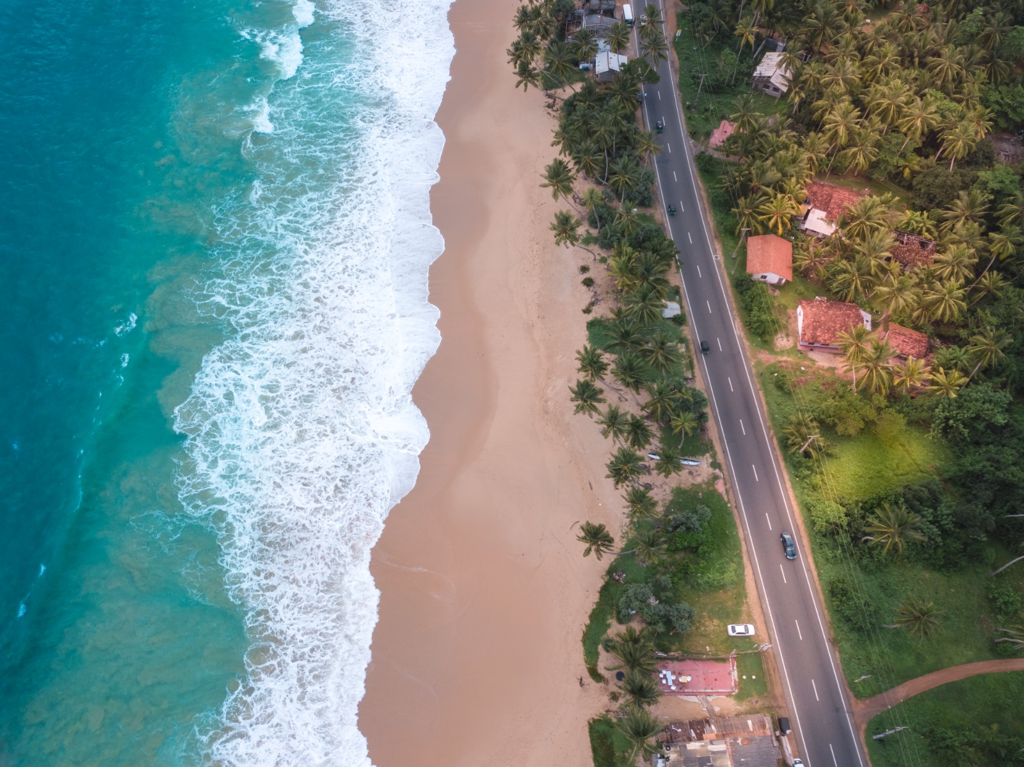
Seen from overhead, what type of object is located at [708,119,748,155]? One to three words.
house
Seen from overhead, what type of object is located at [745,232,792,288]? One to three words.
house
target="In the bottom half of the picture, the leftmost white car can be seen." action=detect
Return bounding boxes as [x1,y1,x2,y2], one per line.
[728,622,756,636]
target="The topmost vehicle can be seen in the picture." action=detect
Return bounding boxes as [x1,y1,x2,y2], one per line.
[624,1,636,26]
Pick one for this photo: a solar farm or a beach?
beach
